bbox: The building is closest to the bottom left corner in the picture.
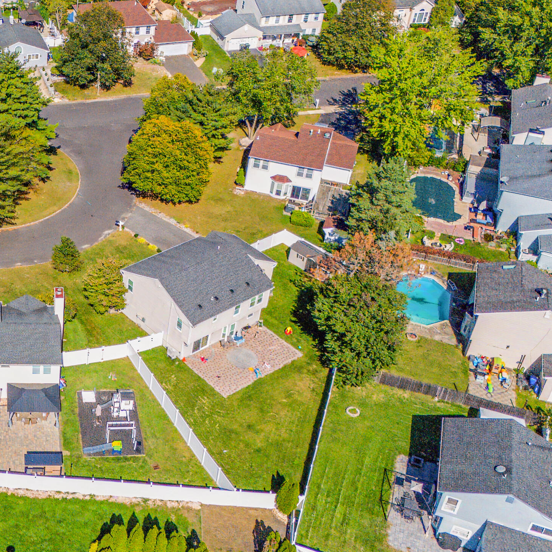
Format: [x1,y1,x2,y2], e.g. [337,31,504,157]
[23,443,65,474]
